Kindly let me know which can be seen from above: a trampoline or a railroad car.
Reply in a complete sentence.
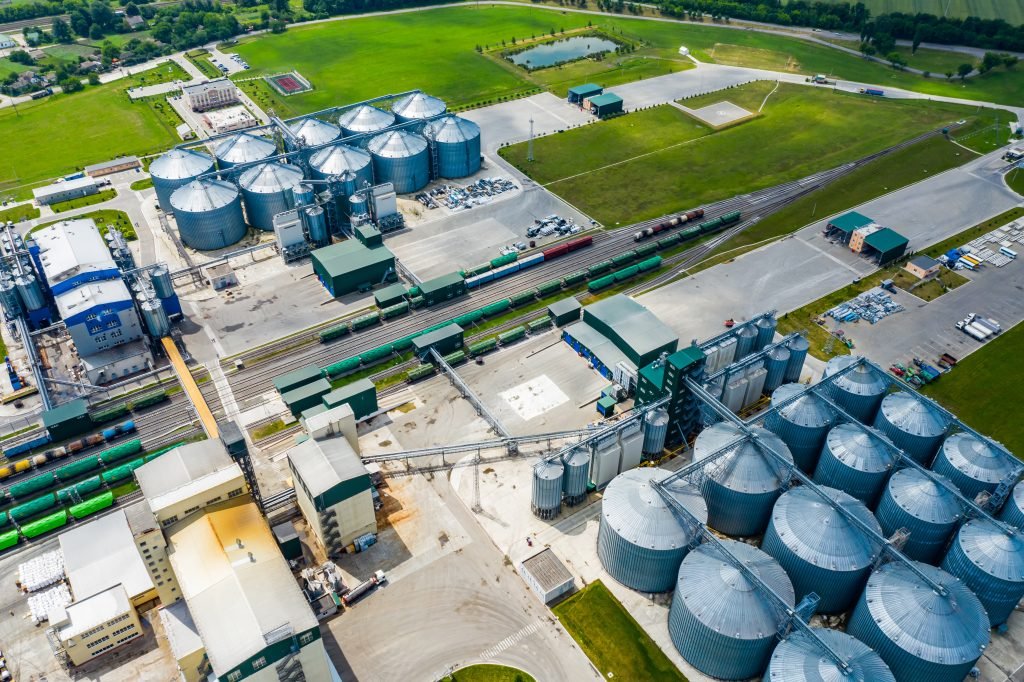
There is a railroad car in the scene.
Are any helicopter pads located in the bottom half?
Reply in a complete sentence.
No, no helicopter pad appears in the bottom half.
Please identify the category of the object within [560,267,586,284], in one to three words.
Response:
rail car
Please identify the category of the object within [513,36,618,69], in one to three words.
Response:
pond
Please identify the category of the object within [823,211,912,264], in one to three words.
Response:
building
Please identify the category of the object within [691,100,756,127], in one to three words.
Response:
helipad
